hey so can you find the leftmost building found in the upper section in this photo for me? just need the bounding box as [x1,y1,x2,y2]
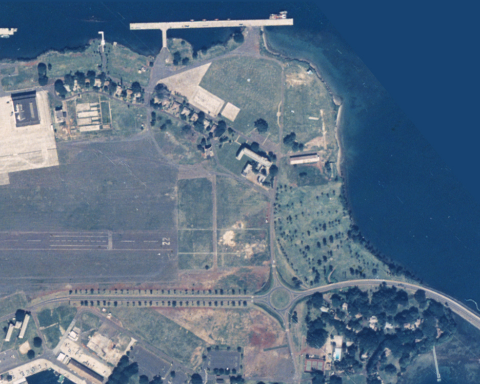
[11,92,40,127]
